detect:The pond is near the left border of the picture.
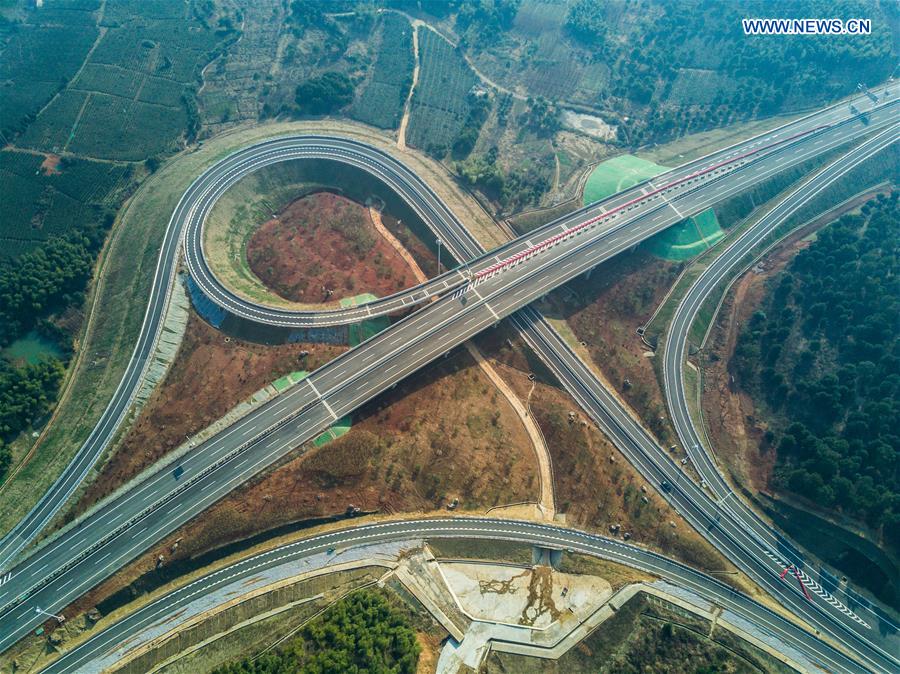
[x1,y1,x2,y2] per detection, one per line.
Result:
[0,337,67,373]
